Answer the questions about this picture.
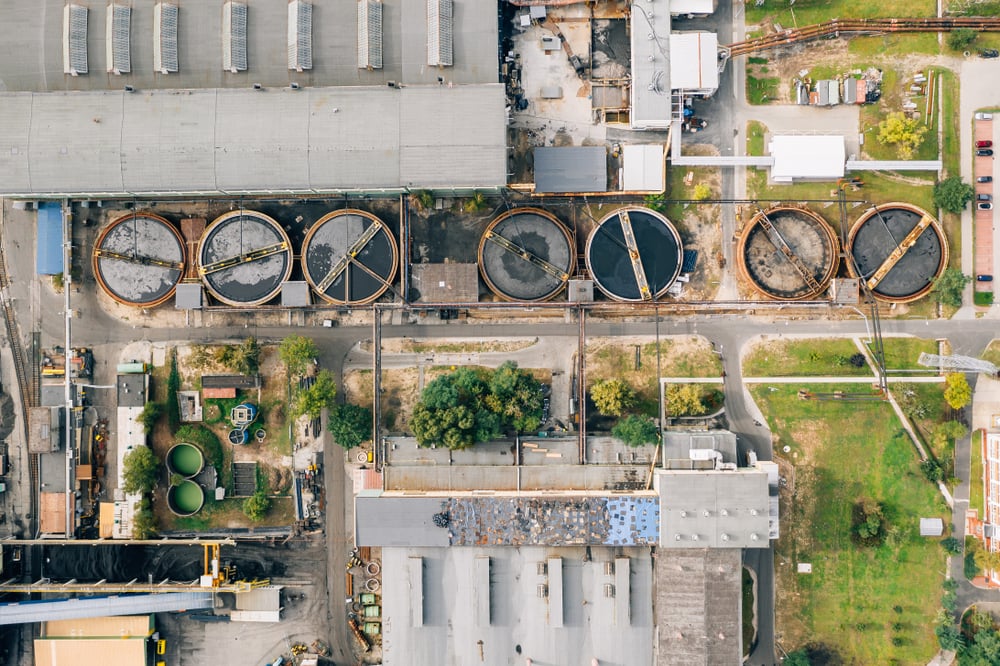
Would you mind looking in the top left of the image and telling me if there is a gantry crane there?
No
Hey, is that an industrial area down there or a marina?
industrial area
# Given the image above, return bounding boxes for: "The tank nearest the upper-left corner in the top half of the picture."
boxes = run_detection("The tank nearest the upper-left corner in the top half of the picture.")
[92,198,187,307]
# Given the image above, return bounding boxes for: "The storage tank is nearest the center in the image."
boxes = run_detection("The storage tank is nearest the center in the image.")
[479,192,577,303]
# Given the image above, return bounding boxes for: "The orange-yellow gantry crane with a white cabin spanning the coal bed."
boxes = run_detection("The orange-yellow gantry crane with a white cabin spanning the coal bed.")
[200,541,237,589]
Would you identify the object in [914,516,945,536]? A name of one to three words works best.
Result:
shed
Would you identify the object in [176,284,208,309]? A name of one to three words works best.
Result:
shed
